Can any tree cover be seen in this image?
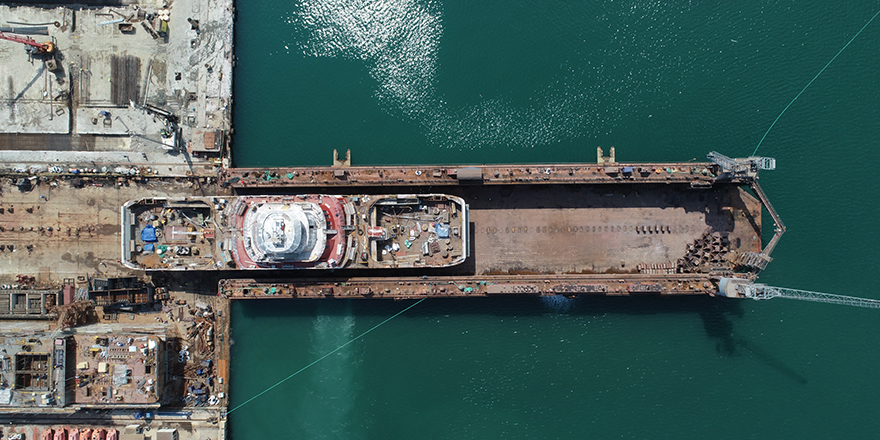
No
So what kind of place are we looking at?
port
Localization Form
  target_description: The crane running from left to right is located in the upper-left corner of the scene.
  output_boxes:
[0,34,56,60]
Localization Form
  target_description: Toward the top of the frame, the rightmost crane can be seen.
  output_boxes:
[706,150,776,185]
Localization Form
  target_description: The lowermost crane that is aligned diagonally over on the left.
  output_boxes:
[129,99,184,156]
